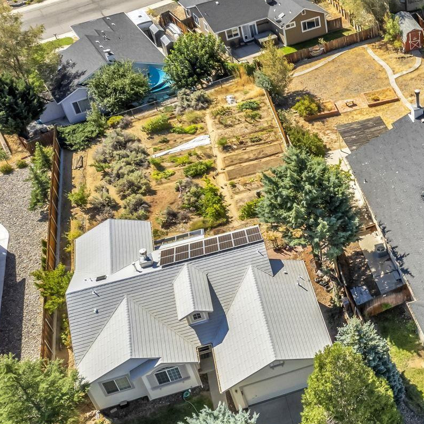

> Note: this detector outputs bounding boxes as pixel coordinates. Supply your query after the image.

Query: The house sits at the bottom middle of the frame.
[64,217,333,413]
